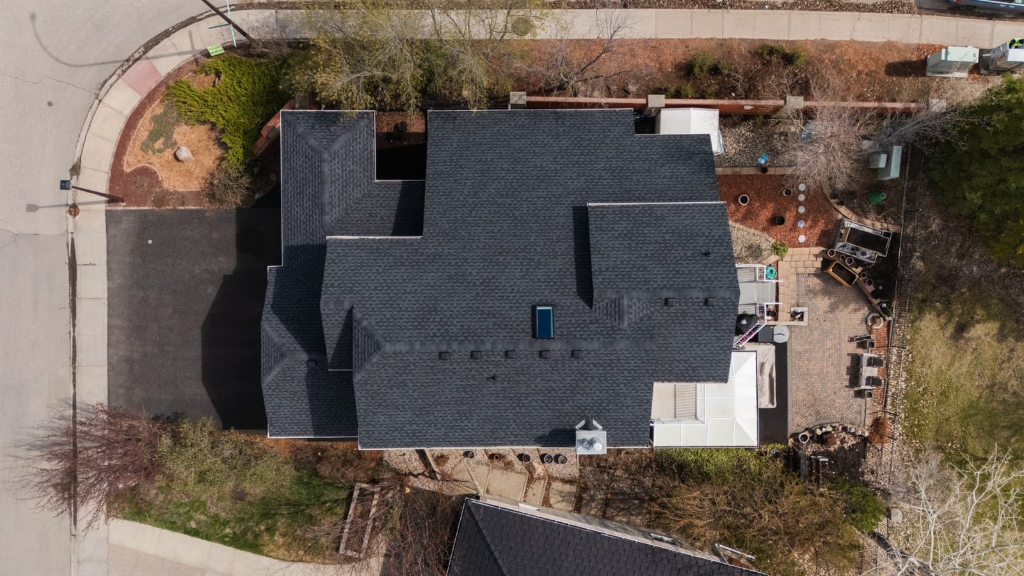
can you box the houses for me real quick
[259,107,738,454]
[448,484,832,576]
